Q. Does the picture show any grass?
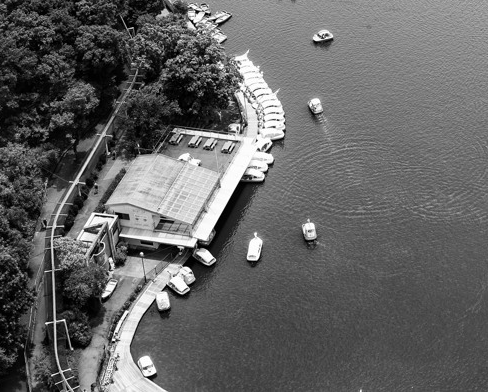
No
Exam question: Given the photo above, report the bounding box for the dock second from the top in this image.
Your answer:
[205,166,255,248]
